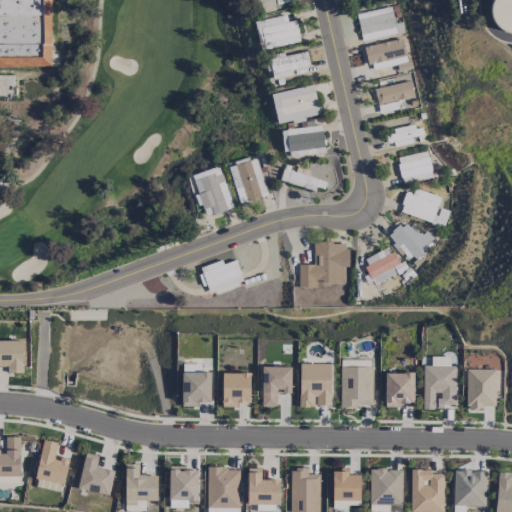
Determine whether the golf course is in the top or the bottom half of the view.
top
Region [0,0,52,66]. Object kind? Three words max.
building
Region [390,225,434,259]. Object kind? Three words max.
house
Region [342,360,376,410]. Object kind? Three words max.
house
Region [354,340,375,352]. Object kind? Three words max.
swimming pool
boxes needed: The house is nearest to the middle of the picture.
[200,260,244,293]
